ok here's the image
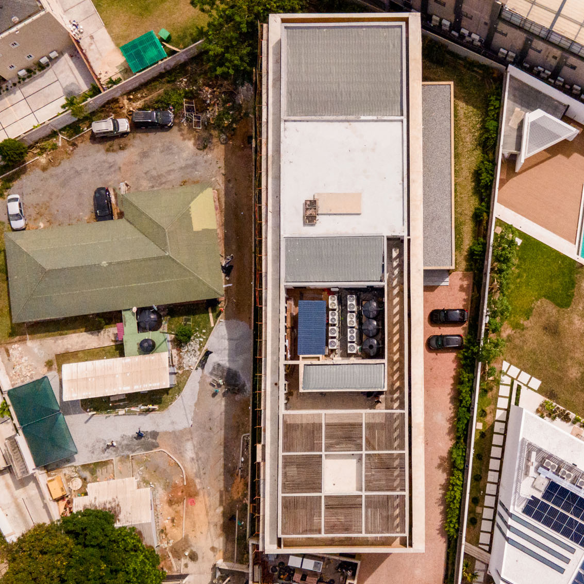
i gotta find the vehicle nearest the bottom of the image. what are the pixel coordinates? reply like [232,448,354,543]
[426,332,465,351]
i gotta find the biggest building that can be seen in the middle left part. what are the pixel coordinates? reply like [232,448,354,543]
[4,178,225,323]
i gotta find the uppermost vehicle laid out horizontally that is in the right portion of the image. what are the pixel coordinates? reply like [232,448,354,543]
[429,306,468,325]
